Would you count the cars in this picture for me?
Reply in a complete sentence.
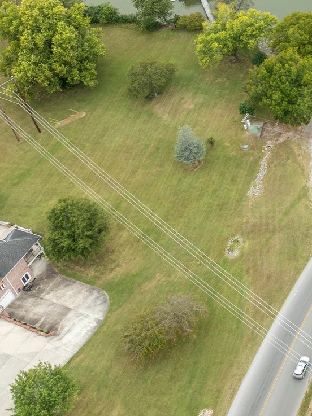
The picture shows 1 car.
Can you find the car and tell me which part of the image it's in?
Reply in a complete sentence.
Look in the bottom right portion of the view to spot the car.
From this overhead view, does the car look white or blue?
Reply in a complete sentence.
In this view, the car is white.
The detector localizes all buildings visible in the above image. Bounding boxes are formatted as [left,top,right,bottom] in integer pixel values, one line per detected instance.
[0,216,52,331]
[244,121,263,138]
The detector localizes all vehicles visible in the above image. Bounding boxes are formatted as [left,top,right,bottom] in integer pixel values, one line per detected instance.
[287,354,307,381]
